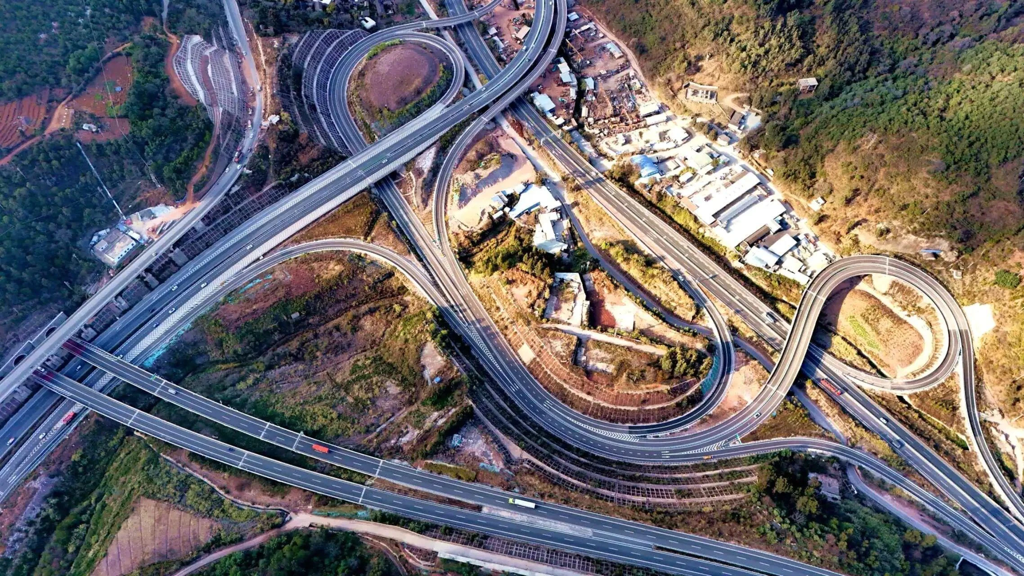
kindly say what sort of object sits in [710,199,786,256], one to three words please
building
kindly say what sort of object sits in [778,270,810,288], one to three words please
building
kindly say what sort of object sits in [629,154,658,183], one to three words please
shed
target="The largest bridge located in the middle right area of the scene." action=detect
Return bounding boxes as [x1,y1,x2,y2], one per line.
[750,256,866,415]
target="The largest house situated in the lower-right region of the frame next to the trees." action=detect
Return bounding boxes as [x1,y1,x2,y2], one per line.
[819,476,839,496]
